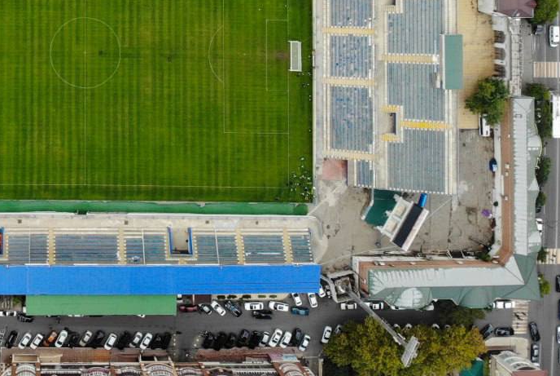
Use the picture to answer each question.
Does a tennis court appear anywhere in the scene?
No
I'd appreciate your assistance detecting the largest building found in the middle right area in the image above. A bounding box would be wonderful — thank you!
[347,97,542,317]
